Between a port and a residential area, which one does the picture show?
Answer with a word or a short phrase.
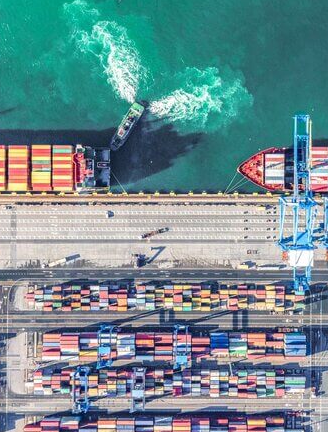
port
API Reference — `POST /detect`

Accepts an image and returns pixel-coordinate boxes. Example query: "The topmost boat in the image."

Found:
[113,102,145,148]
